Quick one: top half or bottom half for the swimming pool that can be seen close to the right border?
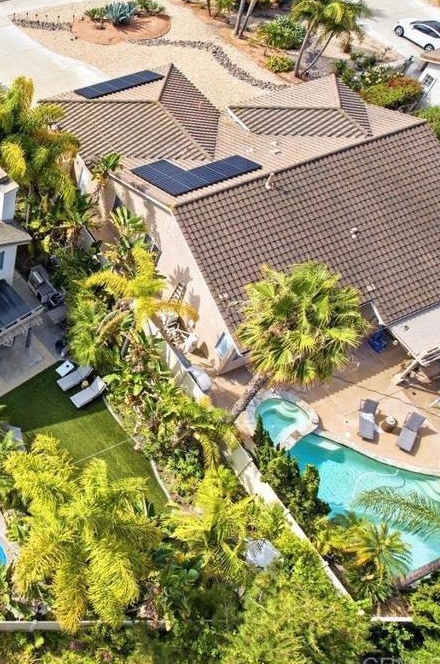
bottom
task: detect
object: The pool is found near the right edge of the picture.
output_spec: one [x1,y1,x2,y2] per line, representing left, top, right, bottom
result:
[281,426,440,589]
